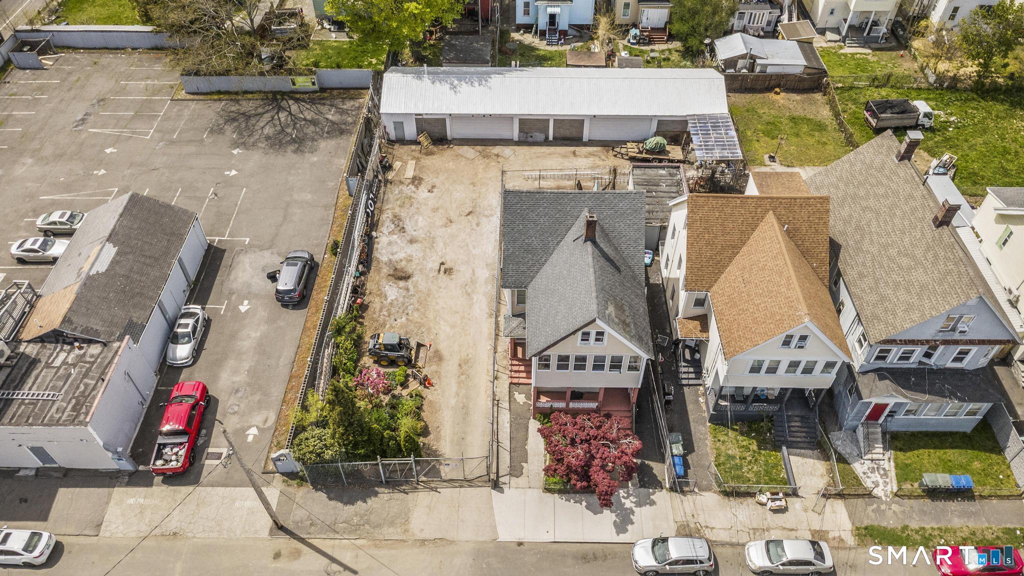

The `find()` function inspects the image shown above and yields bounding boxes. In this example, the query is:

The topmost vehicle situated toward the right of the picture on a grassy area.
[857,95,941,135]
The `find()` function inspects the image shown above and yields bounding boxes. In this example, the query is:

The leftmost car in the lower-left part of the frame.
[0,529,57,571]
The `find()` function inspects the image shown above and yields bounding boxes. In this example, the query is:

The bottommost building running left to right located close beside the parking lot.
[381,57,728,143]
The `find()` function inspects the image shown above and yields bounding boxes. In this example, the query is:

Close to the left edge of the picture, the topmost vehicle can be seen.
[31,204,94,233]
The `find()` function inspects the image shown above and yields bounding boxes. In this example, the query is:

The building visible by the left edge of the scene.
[0,191,211,482]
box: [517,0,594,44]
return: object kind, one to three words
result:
house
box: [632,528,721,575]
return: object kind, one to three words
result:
car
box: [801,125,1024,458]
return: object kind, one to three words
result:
house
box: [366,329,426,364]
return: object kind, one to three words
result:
work vehicle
